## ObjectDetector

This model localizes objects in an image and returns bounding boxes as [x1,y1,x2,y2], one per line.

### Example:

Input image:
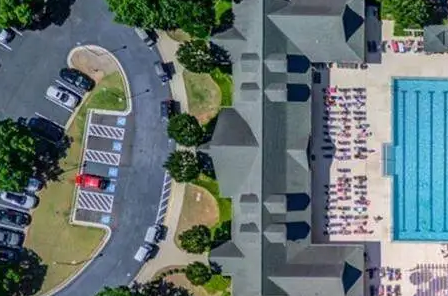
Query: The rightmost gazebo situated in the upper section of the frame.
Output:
[424,26,448,56]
